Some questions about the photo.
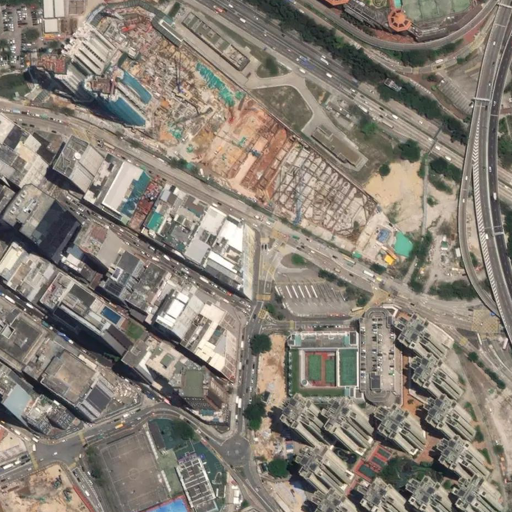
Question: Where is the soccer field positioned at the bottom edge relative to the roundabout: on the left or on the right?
on its left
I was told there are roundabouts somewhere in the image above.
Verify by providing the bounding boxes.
[222,434,250,465]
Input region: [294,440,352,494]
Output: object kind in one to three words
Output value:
building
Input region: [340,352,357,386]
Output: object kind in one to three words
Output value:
sports court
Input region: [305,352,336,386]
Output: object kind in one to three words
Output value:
sports court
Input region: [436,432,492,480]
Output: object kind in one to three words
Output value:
building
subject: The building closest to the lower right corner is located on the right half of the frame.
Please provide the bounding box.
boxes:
[450,472,507,512]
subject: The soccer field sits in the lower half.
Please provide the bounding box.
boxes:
[97,427,172,512]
